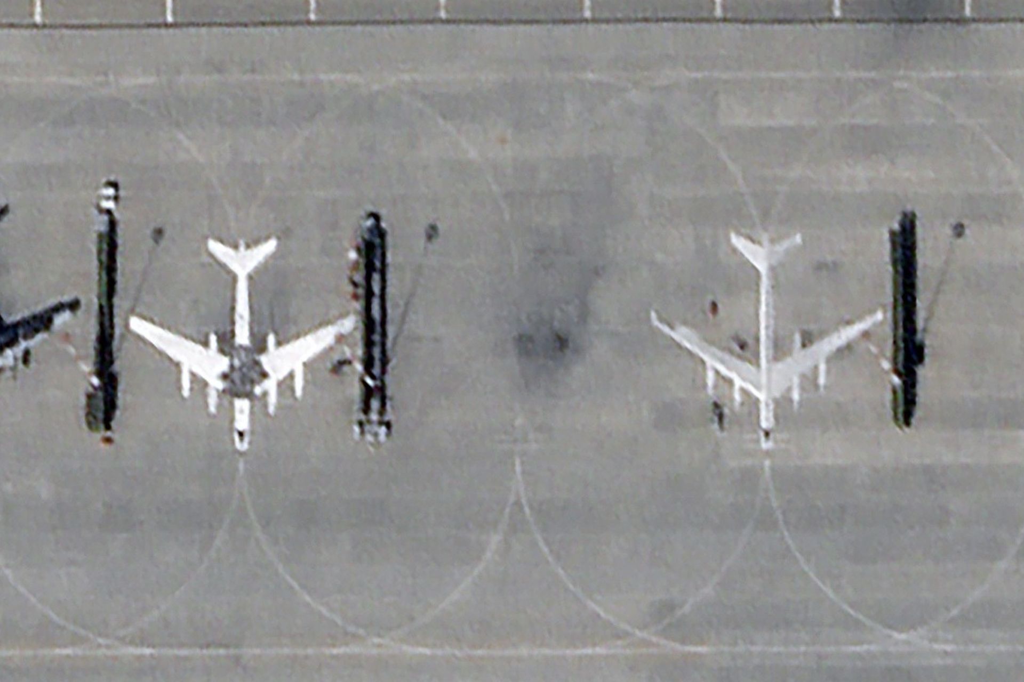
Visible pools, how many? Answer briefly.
zero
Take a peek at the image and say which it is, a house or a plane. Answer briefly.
plane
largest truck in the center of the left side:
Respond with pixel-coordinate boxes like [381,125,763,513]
[85,392,106,435]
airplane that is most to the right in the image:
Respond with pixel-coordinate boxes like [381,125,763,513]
[651,232,883,449]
